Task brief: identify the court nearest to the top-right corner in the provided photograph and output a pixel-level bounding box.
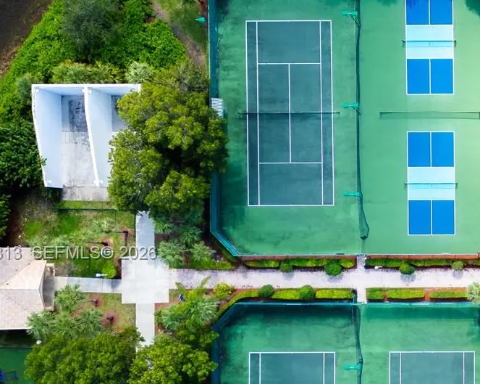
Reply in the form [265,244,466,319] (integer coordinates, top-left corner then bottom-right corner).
[405,0,454,94]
